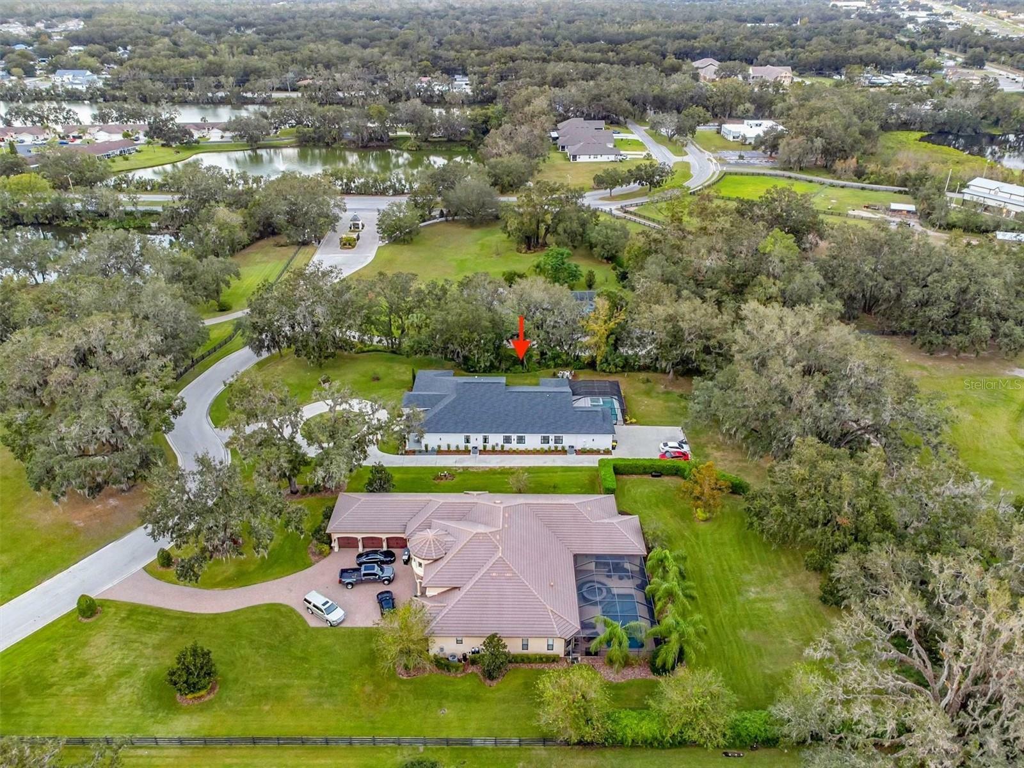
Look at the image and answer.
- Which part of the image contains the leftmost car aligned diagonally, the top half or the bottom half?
bottom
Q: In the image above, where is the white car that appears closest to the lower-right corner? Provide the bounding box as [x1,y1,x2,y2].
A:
[659,438,689,453]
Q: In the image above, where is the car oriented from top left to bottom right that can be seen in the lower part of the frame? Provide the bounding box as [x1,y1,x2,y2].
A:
[303,590,346,626]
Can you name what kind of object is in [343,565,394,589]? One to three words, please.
truck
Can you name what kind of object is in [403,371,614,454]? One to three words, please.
house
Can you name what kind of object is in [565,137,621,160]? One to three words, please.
house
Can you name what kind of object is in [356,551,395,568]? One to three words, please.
car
